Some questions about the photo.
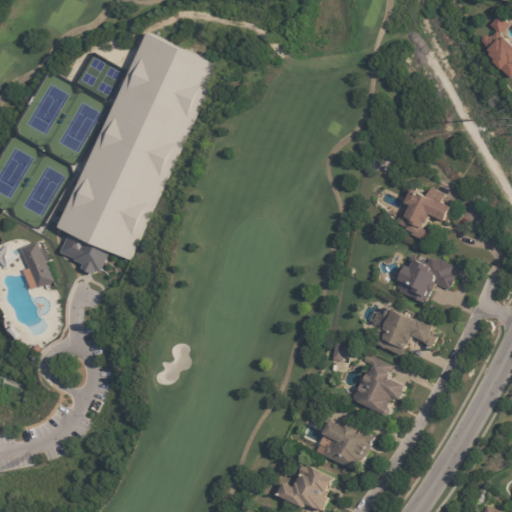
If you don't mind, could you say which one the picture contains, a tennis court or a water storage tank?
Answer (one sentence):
Of the two, only a tennis court appears.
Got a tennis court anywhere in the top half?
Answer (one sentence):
Yes, a tennis court can be seen in the top half.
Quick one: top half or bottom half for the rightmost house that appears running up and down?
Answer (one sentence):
Seen from above, the rightmost house that appears running up and down lies in the top half of the view.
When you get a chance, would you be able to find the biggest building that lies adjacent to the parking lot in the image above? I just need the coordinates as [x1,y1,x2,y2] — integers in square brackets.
[61,32,214,258]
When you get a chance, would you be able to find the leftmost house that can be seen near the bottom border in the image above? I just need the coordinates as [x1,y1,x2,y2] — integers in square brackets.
[275,463,338,512]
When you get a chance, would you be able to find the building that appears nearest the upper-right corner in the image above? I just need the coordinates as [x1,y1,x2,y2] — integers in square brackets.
[480,18,512,83]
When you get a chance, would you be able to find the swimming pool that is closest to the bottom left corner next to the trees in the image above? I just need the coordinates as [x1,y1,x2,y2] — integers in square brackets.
[0,240,63,347]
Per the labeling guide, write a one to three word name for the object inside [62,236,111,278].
building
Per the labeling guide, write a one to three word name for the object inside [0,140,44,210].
tennis court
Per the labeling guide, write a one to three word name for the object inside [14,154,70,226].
tennis court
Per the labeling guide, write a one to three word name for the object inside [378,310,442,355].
house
